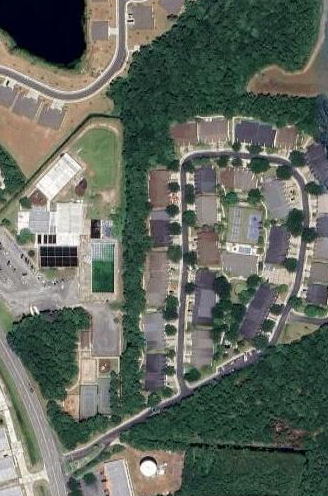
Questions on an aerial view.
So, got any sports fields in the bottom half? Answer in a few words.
No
